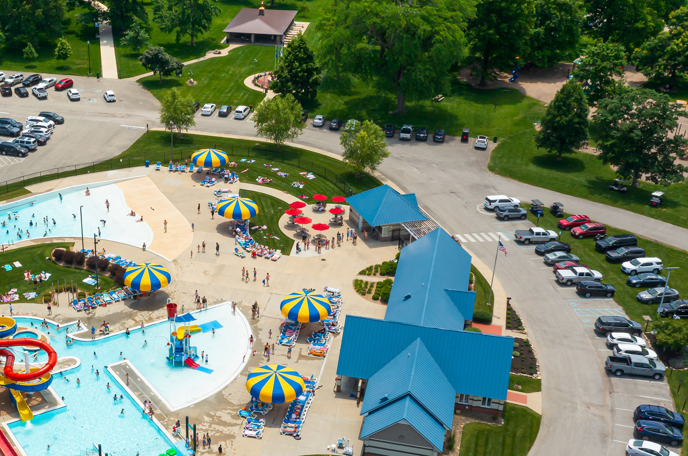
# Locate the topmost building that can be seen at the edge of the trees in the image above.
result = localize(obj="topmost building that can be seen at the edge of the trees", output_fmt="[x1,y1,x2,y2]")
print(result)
[220,0,301,49]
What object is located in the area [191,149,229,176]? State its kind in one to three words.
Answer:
umbrella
